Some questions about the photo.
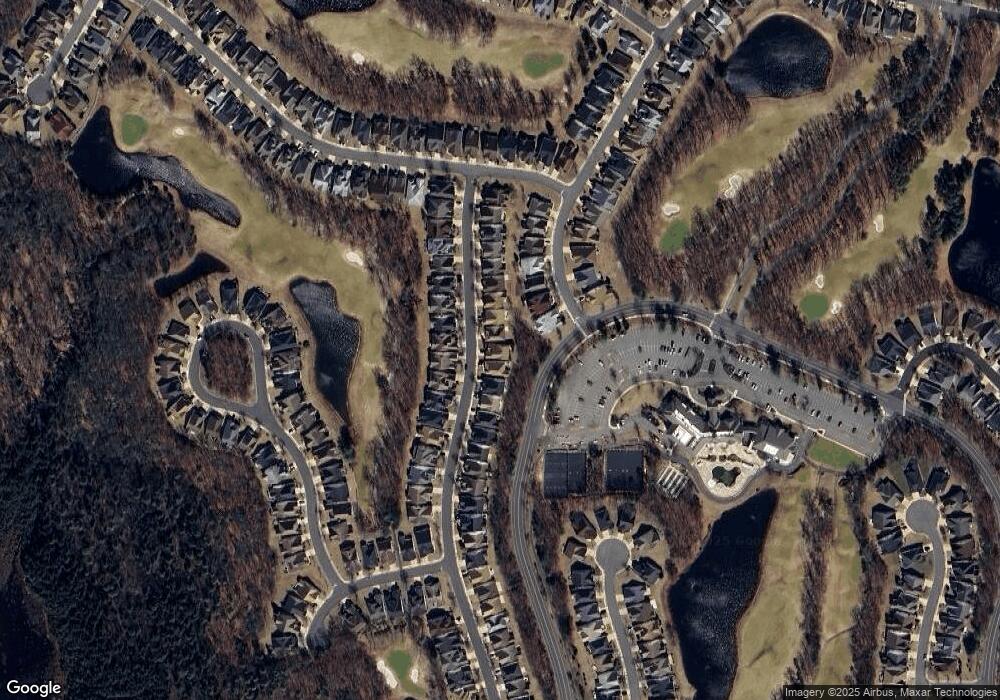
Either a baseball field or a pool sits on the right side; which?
pool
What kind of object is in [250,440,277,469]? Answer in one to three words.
house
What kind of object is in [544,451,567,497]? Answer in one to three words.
tennis court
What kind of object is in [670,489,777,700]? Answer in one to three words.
pond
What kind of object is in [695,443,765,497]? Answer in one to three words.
swimming pool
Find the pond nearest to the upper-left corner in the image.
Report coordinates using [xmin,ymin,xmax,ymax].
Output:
[68,105,241,227]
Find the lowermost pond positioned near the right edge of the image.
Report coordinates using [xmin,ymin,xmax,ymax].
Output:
[948,157,1000,307]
